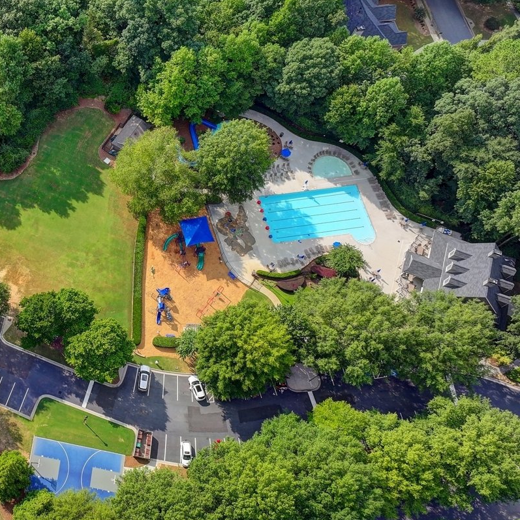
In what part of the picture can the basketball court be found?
bottom left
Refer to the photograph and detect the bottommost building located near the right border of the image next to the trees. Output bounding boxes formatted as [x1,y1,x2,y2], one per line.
[400,228,520,322]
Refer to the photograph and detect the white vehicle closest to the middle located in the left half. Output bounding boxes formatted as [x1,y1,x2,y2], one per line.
[188,376,206,401]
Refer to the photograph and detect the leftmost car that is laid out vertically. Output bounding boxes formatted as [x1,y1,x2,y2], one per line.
[138,366,150,392]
